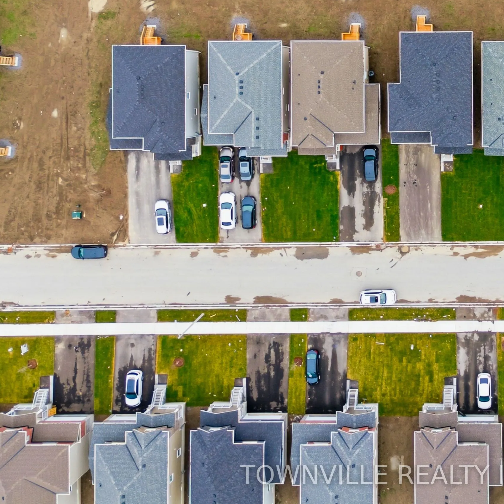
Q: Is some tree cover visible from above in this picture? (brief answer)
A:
No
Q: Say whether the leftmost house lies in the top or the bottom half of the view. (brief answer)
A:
bottom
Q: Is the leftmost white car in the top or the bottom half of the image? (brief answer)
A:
bottom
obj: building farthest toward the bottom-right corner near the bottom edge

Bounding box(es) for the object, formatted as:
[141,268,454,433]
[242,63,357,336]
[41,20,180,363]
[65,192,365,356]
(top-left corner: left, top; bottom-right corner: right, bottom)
[414,374,503,504]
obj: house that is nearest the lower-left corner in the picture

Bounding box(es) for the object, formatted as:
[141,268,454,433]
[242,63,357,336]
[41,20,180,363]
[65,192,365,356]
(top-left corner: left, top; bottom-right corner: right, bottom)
[0,377,93,504]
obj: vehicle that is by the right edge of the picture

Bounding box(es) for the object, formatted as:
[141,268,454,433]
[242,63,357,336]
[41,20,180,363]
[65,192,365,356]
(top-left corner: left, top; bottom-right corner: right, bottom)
[476,372,493,409]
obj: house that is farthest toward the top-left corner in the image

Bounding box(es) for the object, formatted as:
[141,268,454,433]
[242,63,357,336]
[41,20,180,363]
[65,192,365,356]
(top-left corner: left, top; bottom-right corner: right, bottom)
[110,45,201,180]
